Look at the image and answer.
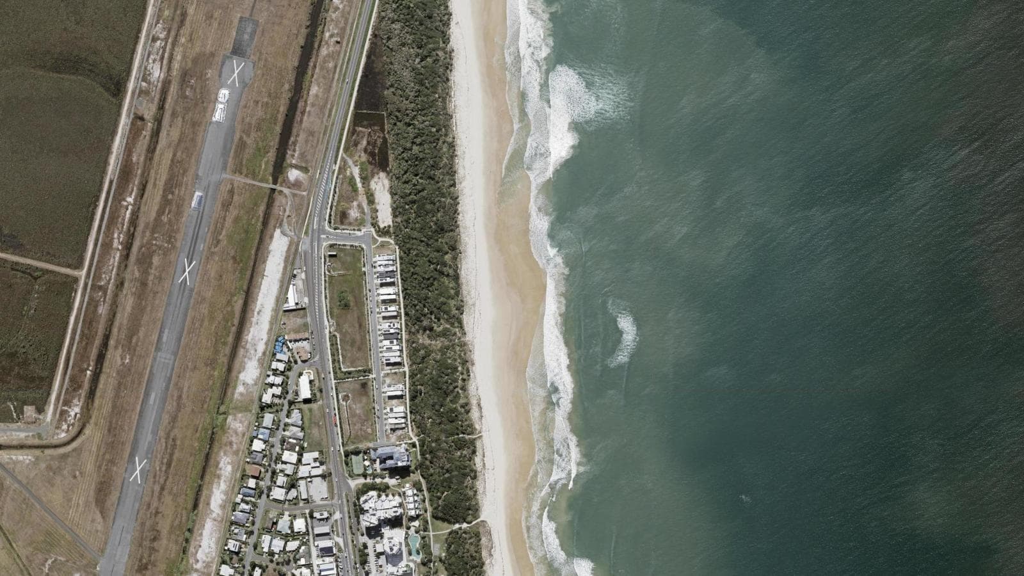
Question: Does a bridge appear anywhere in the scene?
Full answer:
No, there isn't any bridge down there.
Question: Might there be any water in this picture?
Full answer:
Yes, the picture does contain water.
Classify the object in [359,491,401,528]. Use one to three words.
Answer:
building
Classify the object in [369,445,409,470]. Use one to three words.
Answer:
building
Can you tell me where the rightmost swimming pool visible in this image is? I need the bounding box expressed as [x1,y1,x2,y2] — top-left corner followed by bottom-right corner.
[409,533,422,560]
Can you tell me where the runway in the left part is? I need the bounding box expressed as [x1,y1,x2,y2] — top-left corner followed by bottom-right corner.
[101,54,254,576]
